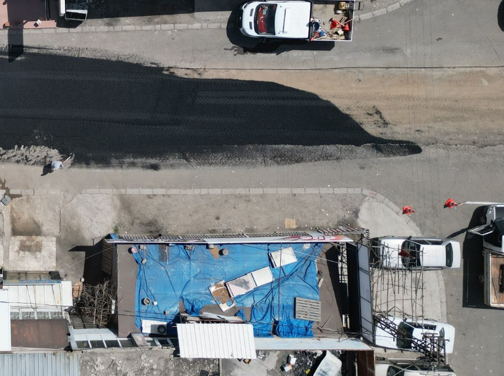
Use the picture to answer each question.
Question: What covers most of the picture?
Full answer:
What you mostly see from above here is paved ground.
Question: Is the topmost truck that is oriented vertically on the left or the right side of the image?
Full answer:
You can find the topmost truck that is oriented vertically on the right side of the picture.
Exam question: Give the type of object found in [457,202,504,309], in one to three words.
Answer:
truck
